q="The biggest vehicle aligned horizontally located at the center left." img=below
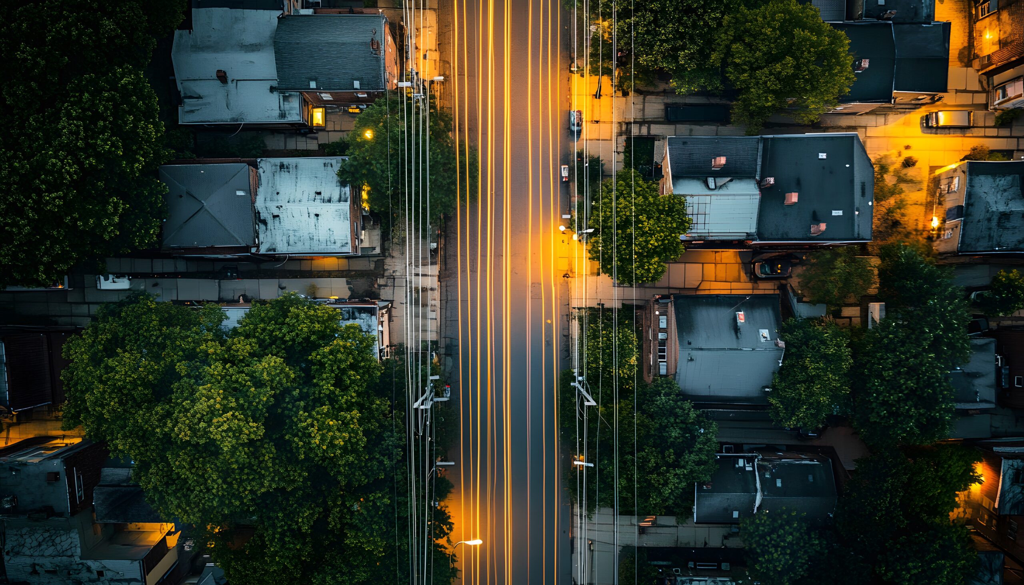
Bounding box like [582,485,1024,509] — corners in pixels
[97,274,135,291]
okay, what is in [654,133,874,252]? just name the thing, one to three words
house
